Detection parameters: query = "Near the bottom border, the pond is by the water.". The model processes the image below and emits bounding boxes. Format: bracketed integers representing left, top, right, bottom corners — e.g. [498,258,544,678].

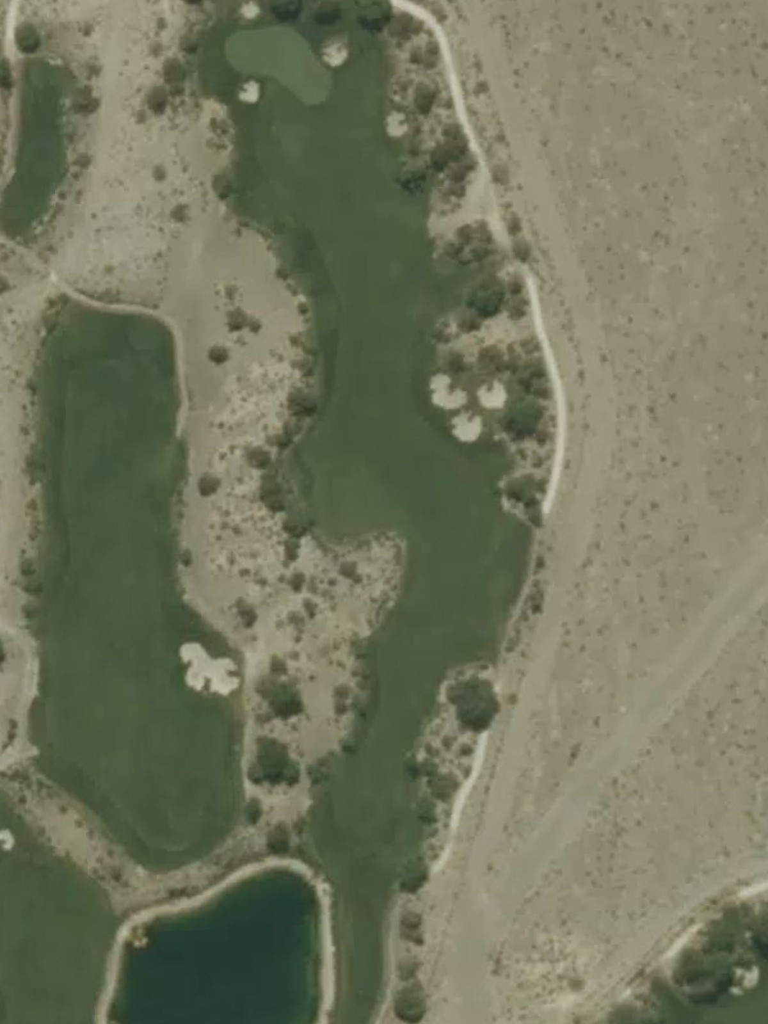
[110,868,319,1024]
